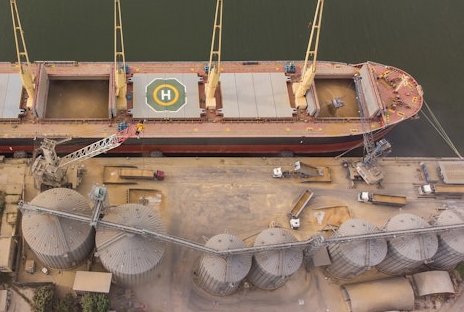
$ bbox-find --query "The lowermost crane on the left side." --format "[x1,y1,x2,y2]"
[23,122,146,185]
